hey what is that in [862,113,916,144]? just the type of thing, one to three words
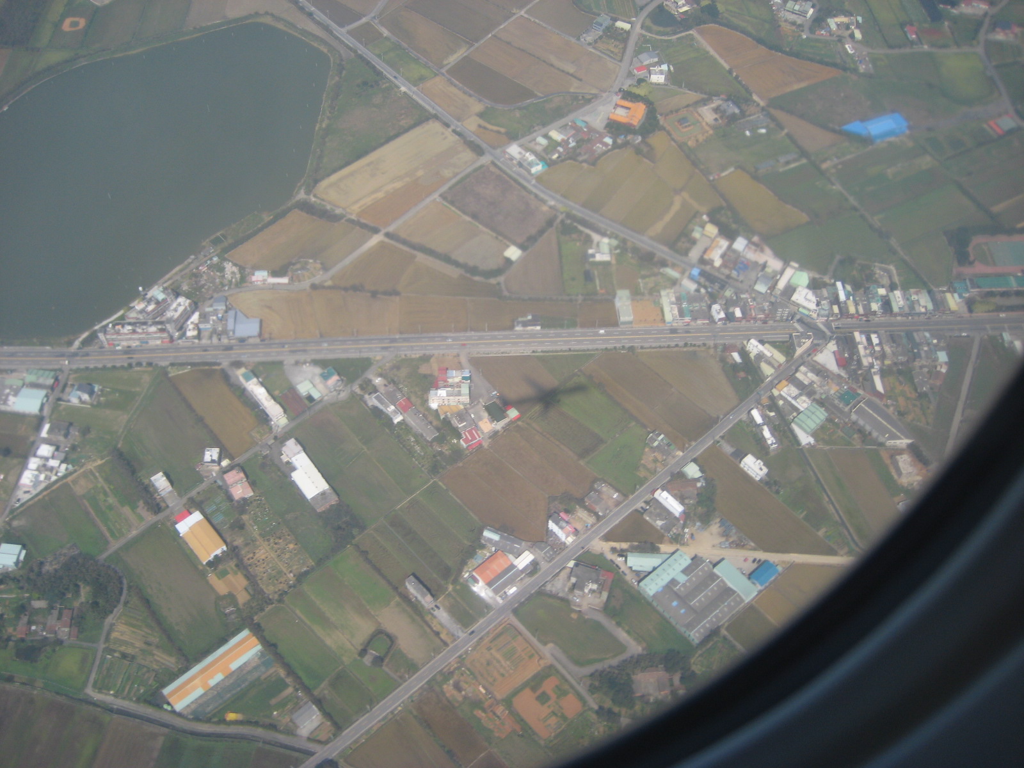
building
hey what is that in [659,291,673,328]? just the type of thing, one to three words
house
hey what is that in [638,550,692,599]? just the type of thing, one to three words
building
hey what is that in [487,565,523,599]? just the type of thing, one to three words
shed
